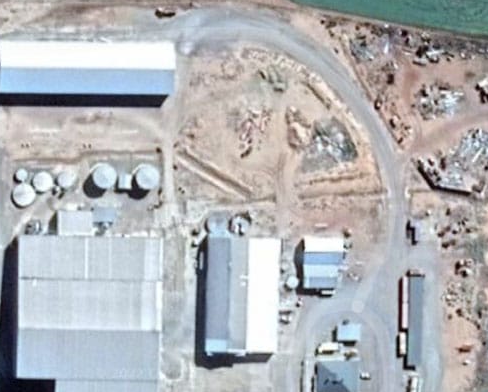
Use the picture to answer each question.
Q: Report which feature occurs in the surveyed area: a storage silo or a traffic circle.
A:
storage silo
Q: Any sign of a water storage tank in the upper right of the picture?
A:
No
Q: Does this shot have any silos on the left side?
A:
Yes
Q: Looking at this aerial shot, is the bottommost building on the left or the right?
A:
right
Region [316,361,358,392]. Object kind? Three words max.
building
